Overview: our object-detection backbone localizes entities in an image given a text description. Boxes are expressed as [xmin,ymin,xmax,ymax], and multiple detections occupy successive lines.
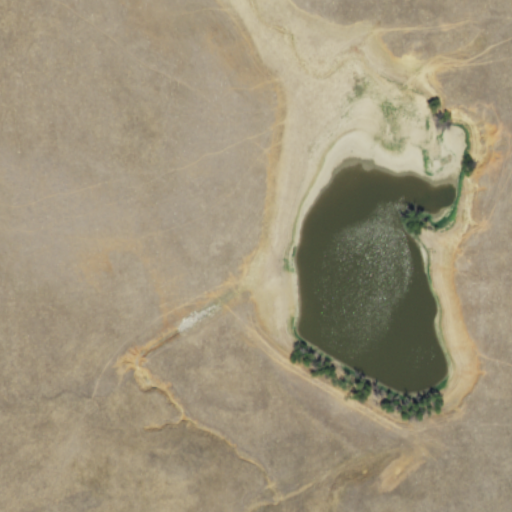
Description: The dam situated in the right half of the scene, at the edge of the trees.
[212,291,430,442]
